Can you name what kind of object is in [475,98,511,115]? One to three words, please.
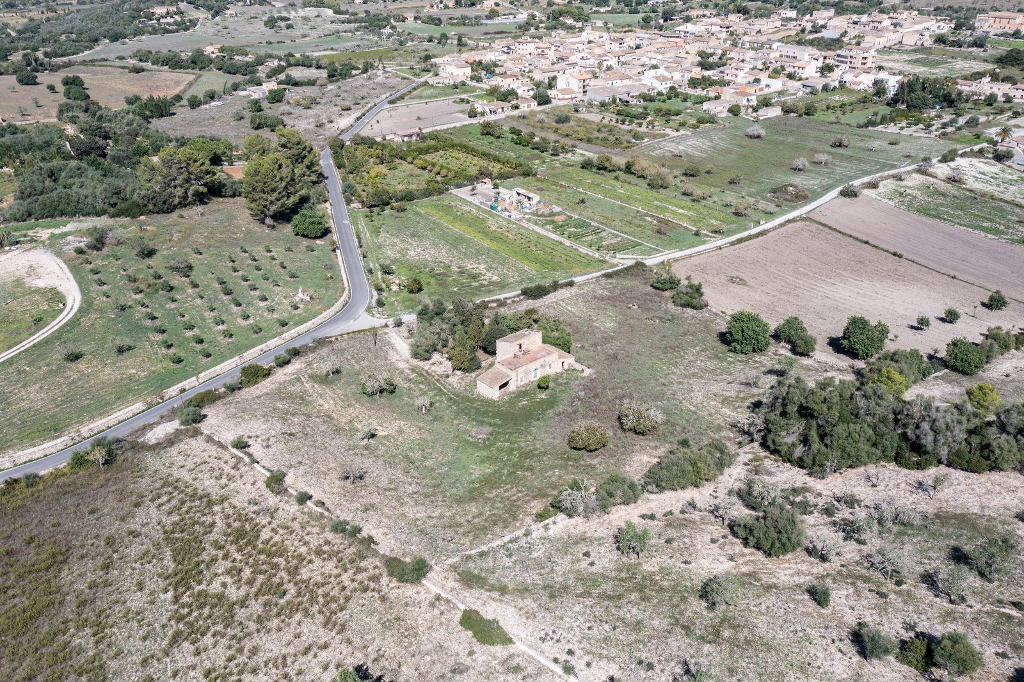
house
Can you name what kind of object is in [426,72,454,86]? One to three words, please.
house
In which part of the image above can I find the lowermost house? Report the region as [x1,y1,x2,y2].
[478,325,575,399]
